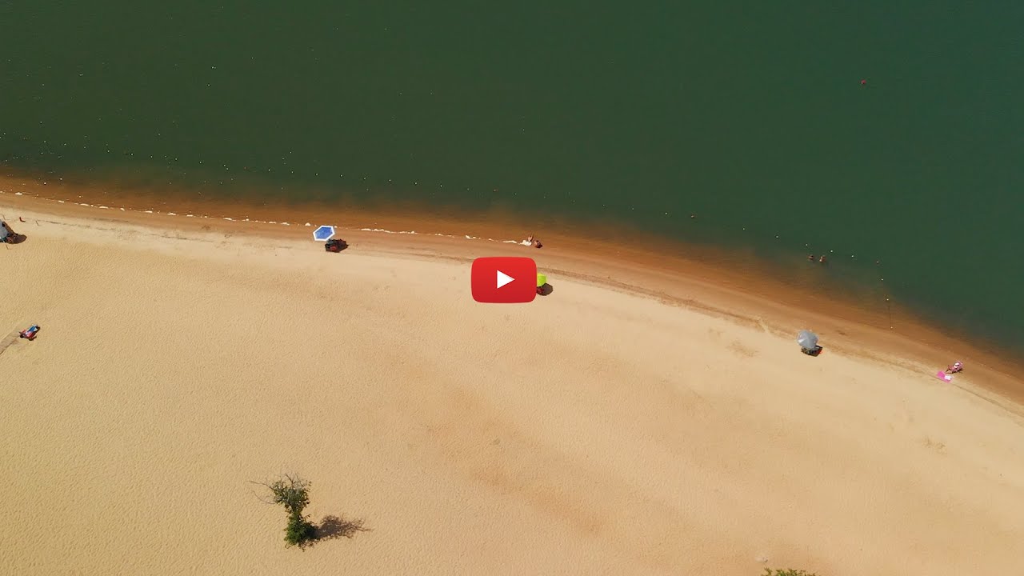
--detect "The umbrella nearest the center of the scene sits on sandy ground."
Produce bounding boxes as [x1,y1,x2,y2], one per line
[530,274,545,287]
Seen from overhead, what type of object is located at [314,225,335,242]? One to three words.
umbrella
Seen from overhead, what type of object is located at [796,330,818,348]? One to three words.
umbrella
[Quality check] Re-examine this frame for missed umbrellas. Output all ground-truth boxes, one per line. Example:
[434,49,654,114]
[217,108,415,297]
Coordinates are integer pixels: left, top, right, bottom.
[796,330,818,348]
[0,219,11,245]
[314,225,335,242]
[530,274,545,287]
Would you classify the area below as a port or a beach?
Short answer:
beach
